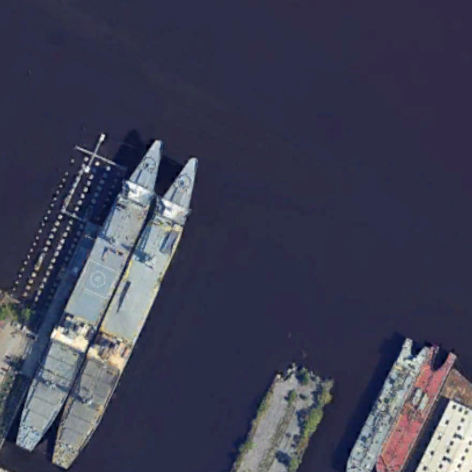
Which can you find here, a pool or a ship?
ship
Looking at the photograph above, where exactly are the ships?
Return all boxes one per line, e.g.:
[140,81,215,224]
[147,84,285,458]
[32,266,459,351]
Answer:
[52,158,197,471]
[377,345,456,472]
[16,141,163,452]
[347,339,431,472]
